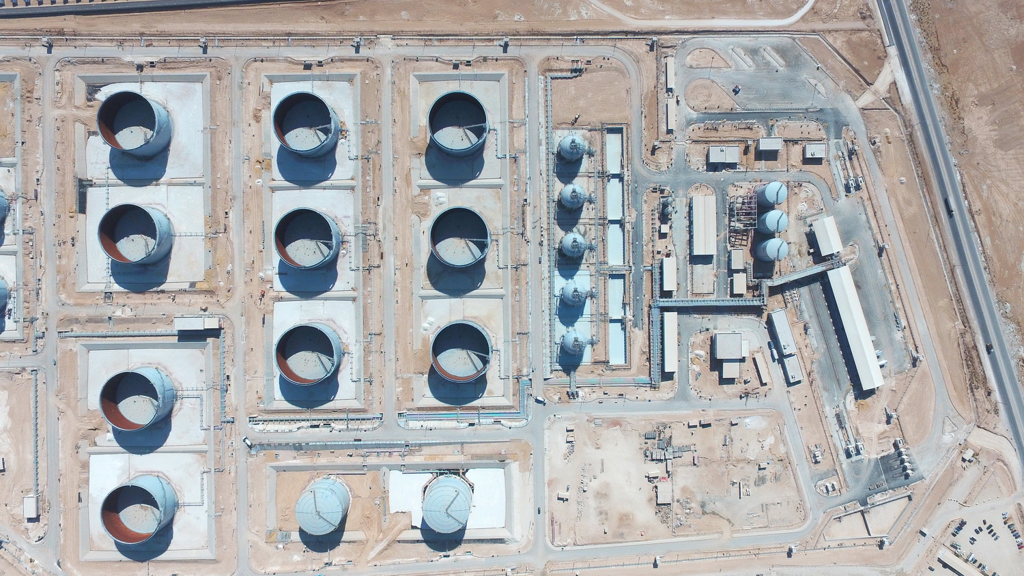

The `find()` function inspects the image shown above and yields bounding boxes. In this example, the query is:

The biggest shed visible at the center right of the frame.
[822,265,884,390]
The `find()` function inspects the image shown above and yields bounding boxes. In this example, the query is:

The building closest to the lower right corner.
[937,548,988,576]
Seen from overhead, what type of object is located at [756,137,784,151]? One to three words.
building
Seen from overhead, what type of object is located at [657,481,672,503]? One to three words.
shed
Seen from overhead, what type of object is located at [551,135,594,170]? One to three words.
storage tank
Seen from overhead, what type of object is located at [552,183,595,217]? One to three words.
storage tank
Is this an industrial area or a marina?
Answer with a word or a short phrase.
industrial area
